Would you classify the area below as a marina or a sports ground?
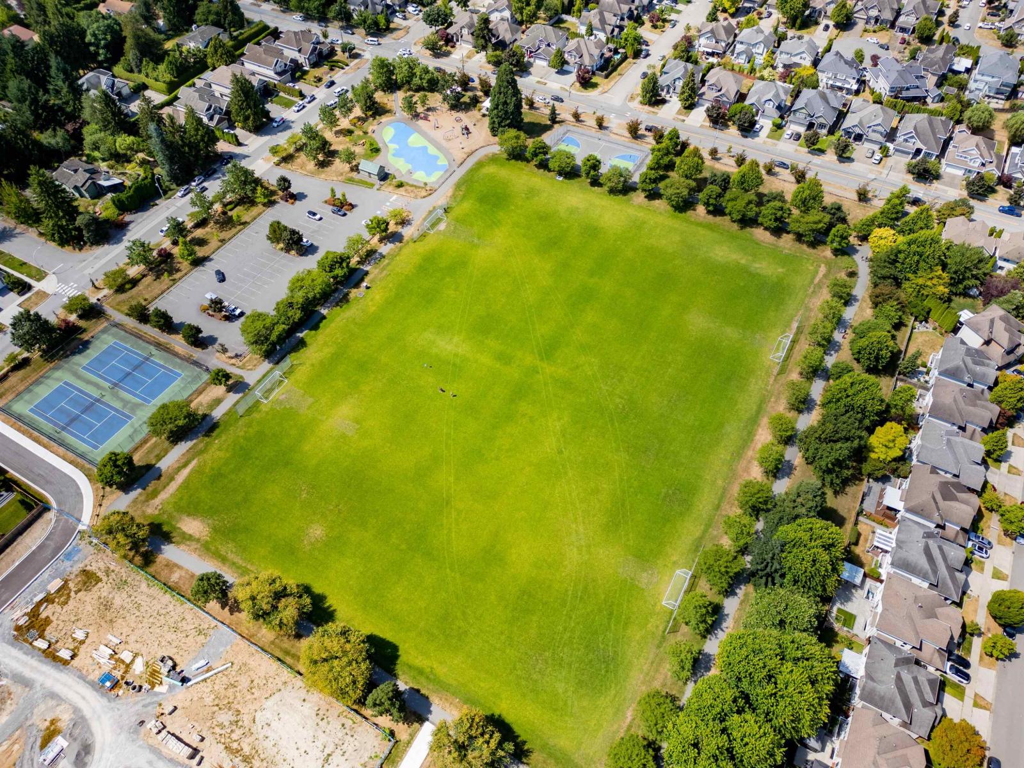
sports ground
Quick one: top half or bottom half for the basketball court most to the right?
top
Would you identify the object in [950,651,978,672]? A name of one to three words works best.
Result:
car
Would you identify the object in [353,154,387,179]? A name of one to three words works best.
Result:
building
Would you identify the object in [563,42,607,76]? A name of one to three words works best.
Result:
house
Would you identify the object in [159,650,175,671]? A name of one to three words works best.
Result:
work vehicle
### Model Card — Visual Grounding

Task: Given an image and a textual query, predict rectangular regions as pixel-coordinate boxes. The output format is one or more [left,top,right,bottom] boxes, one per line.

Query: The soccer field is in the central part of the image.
[115,145,854,768]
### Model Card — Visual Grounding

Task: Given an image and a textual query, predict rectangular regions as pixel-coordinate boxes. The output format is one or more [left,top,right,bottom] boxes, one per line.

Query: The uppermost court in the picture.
[546,122,653,176]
